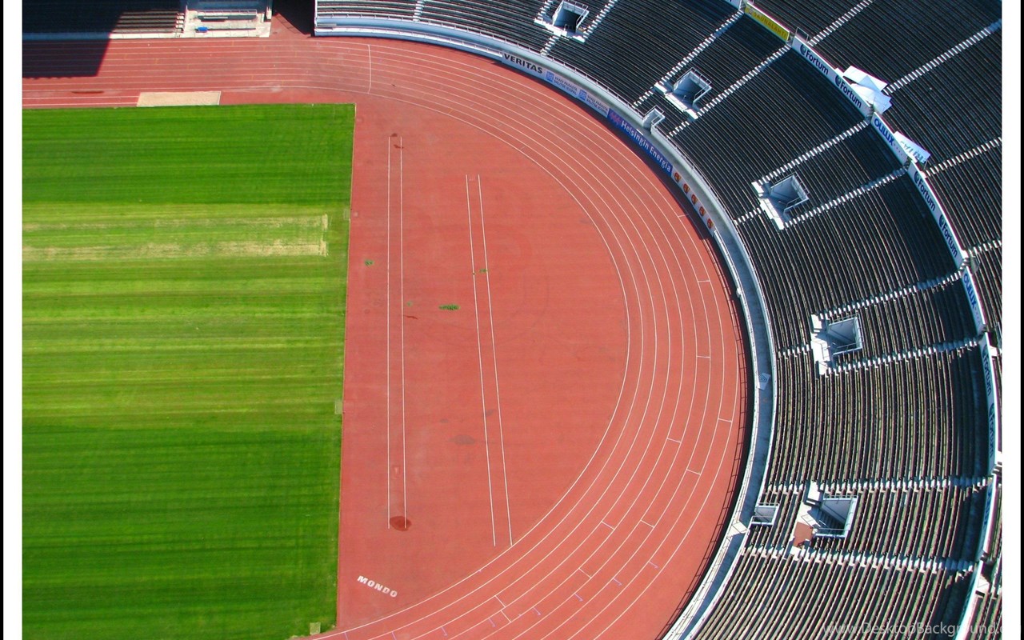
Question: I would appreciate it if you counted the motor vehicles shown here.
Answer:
0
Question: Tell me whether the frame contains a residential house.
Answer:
No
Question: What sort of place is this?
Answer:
sports ground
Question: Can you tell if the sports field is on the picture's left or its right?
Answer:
left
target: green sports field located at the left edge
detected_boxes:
[0,102,354,640]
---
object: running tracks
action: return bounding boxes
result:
[0,21,774,640]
